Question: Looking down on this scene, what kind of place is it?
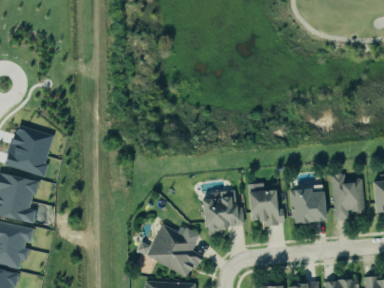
residential area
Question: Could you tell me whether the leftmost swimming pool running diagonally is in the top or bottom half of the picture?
bottom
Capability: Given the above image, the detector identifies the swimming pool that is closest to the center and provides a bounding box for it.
[195,179,232,201]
